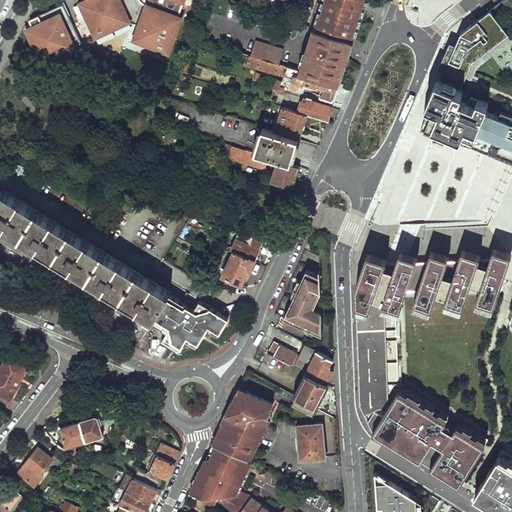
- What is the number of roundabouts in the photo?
2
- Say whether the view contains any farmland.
No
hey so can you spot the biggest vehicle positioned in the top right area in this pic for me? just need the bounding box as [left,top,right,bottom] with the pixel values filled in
[400,95,413,122]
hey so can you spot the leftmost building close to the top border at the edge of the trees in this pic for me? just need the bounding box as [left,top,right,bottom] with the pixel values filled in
[24,2,82,64]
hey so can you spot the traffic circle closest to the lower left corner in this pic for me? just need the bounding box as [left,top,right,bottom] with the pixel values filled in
[163,364,225,432]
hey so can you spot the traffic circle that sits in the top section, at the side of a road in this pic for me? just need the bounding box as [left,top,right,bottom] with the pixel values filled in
[347,42,416,160]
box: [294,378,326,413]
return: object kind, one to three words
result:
house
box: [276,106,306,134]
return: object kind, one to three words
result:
house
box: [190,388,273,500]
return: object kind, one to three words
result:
building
